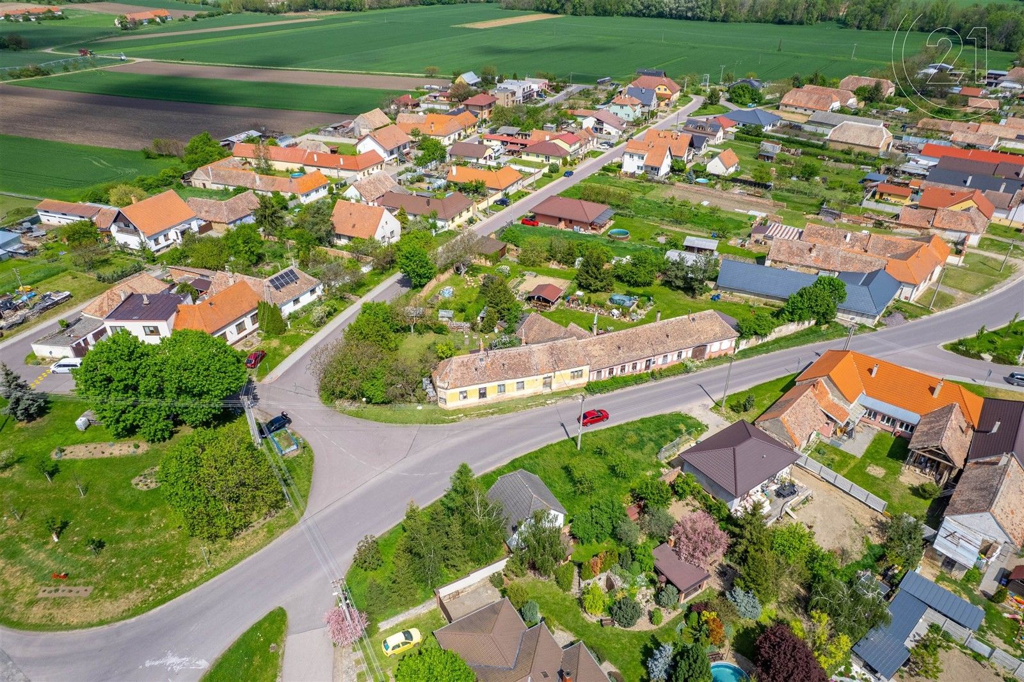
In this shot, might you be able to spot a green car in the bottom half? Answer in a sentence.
No, there's no green car to be seen in the bottom half.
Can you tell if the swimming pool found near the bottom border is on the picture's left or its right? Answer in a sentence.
The swimming pool found near the bottom border is on the right side of the image.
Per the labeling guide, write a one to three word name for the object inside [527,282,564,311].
building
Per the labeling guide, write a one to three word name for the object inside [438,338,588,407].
house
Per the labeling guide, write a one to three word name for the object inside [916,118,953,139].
house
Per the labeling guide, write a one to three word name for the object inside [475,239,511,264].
shed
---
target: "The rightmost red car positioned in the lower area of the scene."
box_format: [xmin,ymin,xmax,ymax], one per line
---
[578,410,609,425]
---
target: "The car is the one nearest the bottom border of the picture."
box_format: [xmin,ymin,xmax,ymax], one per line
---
[382,630,421,657]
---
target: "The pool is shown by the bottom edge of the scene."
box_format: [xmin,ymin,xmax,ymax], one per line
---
[706,655,750,682]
